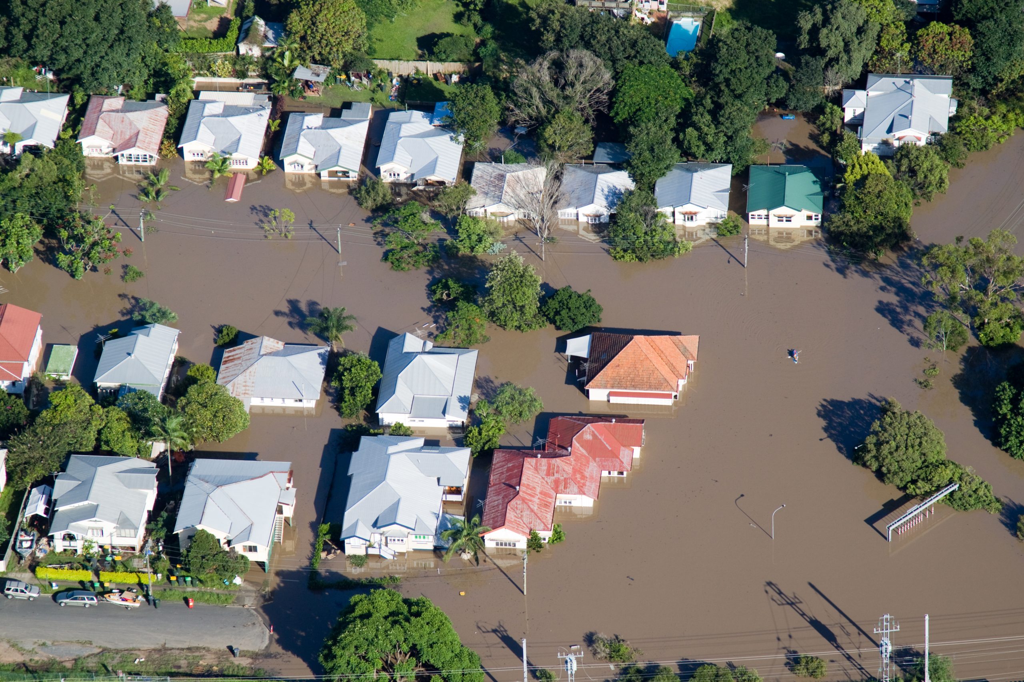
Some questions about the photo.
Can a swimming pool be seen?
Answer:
Yes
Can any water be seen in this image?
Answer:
Yes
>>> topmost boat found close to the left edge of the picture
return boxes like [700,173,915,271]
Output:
[19,528,33,556]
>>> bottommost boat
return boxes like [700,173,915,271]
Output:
[103,588,143,606]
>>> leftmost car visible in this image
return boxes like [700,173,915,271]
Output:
[2,579,41,601]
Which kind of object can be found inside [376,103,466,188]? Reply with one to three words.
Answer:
house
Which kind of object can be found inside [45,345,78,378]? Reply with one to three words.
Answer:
shed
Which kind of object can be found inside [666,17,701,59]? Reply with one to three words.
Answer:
swimming pool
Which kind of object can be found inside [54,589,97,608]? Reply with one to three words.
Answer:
car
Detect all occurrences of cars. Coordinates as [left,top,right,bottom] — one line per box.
[54,589,97,608]
[2,579,41,601]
